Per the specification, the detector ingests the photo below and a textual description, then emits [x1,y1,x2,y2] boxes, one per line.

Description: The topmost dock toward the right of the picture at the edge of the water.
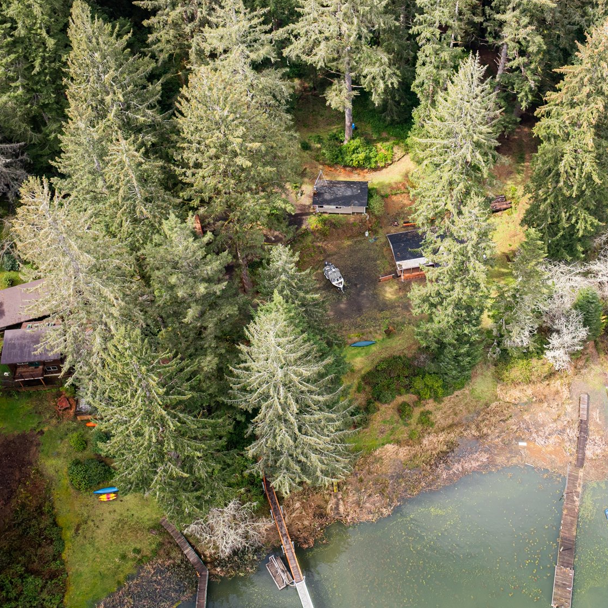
[557,394,587,566]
